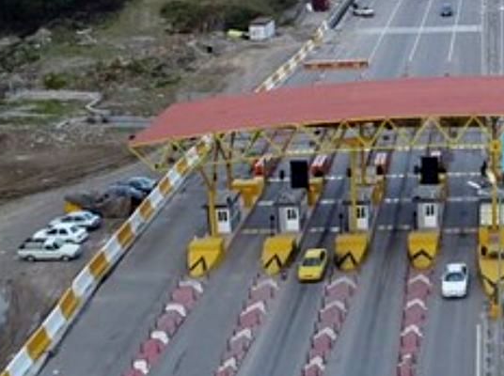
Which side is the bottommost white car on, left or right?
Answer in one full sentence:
The bottommost white car sits on the right side.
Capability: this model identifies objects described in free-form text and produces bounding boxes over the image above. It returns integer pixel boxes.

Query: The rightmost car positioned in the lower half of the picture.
[439,268,469,303]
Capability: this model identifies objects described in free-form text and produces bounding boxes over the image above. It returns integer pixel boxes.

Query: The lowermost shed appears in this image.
[248,19,277,40]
